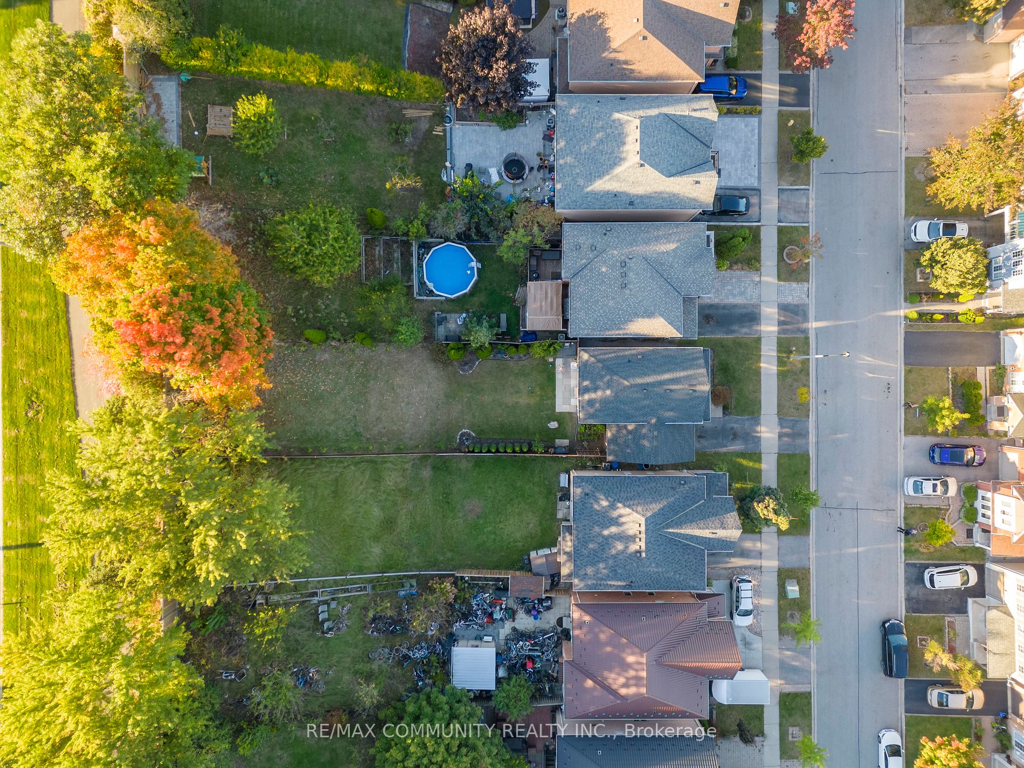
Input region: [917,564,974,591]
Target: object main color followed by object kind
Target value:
white car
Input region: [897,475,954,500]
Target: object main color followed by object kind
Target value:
white car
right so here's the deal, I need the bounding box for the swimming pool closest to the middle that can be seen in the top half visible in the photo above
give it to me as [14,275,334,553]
[423,243,487,297]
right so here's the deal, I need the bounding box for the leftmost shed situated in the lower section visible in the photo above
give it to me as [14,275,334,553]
[451,639,496,690]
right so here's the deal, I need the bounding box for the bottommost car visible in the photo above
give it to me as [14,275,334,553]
[873,725,902,768]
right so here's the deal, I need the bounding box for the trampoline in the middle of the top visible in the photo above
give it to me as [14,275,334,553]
[501,148,530,184]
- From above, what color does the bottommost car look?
white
